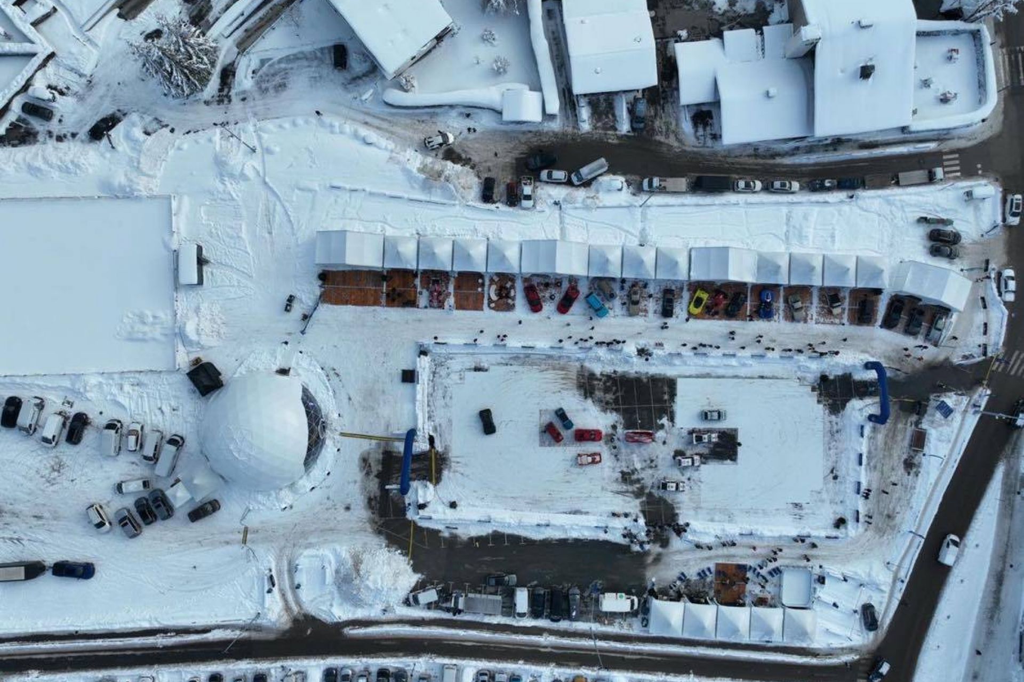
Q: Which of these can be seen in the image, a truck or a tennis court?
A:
truck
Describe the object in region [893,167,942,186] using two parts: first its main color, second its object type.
gray vehicle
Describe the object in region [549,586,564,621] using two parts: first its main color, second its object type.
black vehicle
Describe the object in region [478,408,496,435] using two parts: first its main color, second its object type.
black car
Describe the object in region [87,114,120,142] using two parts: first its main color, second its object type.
black car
